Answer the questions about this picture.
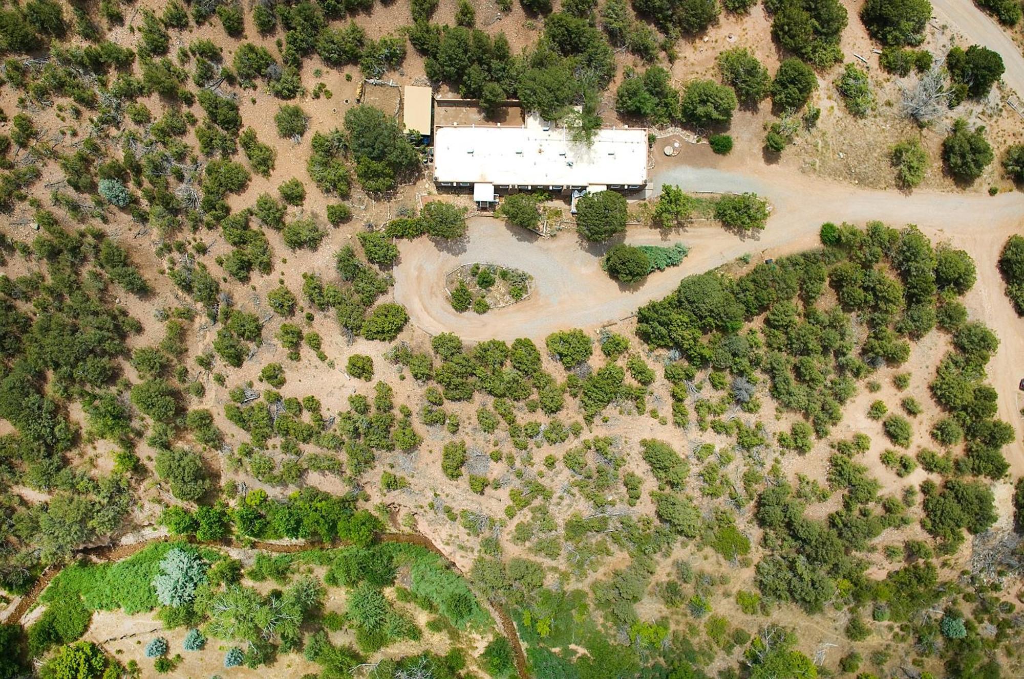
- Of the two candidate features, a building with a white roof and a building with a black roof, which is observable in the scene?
building with a white roof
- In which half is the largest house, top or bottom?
top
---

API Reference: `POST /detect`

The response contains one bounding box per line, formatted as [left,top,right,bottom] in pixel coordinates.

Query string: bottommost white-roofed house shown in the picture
[434,122,648,211]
